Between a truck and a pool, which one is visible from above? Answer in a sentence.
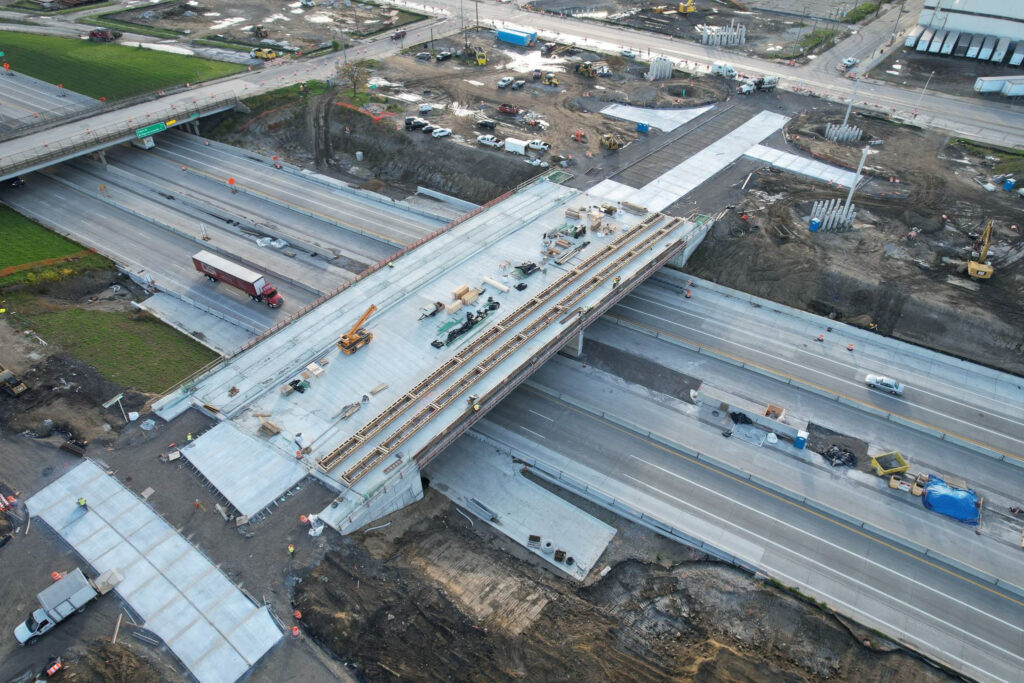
This aerial view contains a truck.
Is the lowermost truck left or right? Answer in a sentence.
You can find the lowermost truck on the left side of the picture.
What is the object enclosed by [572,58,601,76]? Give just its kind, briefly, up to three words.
work vehicle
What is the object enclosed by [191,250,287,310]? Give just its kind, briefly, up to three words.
truck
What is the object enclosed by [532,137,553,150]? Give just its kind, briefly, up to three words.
vehicle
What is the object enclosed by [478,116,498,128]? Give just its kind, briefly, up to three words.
vehicle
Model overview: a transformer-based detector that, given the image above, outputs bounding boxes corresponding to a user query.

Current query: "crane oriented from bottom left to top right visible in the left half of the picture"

[333,301,376,356]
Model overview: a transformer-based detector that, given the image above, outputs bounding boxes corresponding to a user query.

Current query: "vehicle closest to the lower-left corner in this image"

[4,553,121,640]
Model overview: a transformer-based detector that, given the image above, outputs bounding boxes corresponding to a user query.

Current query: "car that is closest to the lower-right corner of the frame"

[868,375,905,394]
